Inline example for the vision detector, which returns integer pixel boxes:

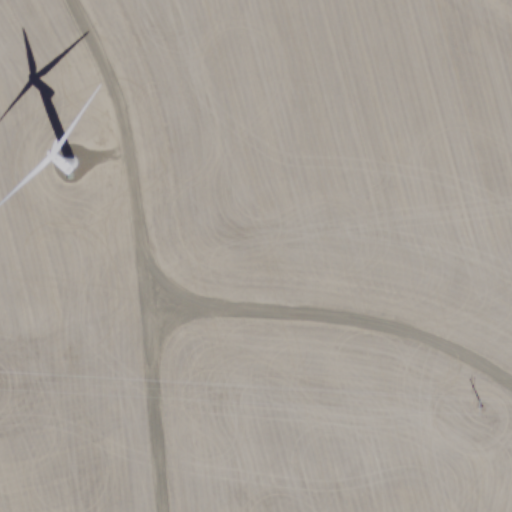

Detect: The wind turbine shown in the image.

[0,83,104,206]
